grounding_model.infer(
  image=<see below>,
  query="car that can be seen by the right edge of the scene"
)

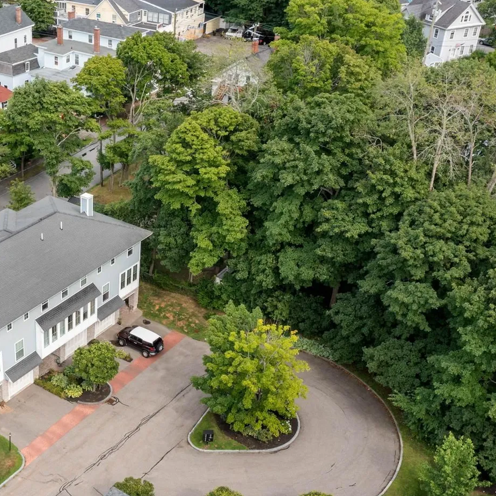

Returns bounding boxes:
[476,38,496,50]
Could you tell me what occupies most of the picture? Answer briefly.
trees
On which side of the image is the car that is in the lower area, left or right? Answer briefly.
left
